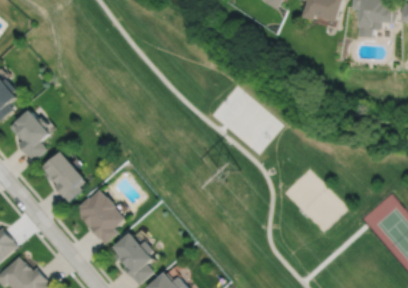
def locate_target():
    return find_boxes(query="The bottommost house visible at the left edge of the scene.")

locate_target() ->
[0,258,49,288]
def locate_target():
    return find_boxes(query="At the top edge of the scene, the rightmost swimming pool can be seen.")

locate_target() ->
[350,8,401,65]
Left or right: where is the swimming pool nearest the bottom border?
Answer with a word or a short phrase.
left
